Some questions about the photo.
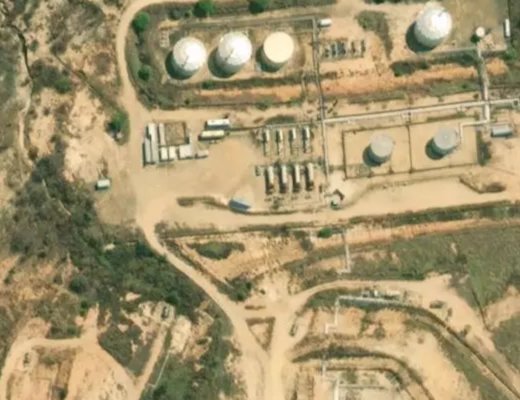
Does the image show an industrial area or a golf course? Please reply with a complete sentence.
The area seen from above is an industrial area.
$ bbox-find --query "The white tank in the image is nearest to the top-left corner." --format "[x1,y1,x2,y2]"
[169,38,208,77]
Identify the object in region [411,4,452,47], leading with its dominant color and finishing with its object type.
white storage tank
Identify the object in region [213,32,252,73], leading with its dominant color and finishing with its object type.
white storage tank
